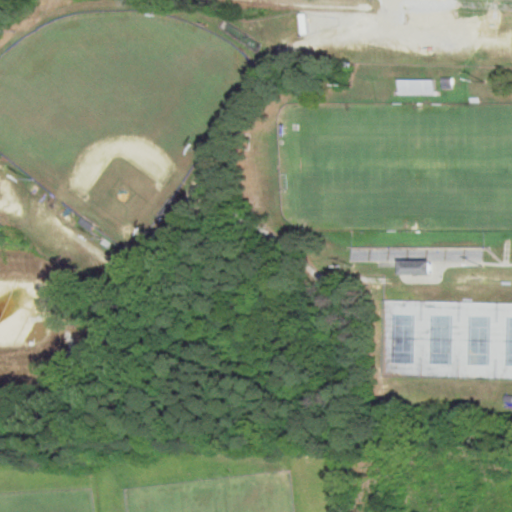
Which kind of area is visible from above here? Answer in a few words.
sports ground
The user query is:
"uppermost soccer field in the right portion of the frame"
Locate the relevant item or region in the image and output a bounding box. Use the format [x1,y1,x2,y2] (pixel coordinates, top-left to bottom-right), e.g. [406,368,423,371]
[279,104,512,230]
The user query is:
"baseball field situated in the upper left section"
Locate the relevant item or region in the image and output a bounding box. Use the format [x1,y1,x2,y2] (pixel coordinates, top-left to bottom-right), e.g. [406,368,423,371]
[0,10,247,250]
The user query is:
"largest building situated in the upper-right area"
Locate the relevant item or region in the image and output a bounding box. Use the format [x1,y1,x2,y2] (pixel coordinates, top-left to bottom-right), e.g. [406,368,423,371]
[396,78,436,94]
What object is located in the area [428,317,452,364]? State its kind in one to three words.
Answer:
tennis court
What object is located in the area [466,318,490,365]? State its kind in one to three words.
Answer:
tennis court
